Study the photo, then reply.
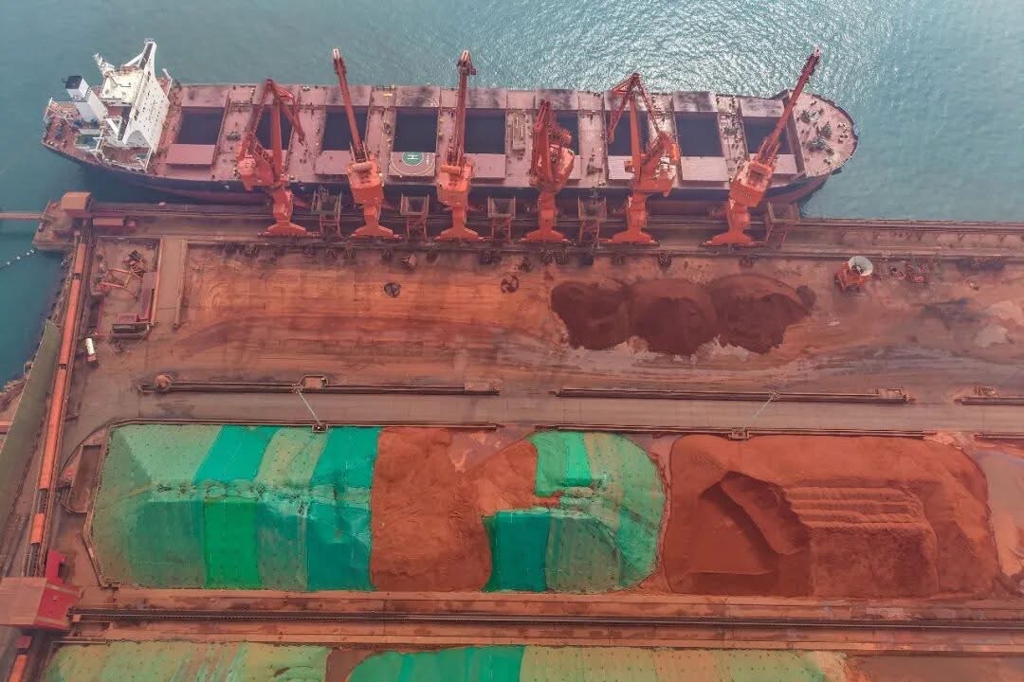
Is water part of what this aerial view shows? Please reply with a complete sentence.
Yes, water can be seen from above here.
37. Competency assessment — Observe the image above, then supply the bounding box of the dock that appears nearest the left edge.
[30,202,90,252]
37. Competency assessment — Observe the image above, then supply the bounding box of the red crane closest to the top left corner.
[220,76,312,236]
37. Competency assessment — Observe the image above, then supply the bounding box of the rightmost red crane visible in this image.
[702,51,822,246]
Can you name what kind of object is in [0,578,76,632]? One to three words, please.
house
